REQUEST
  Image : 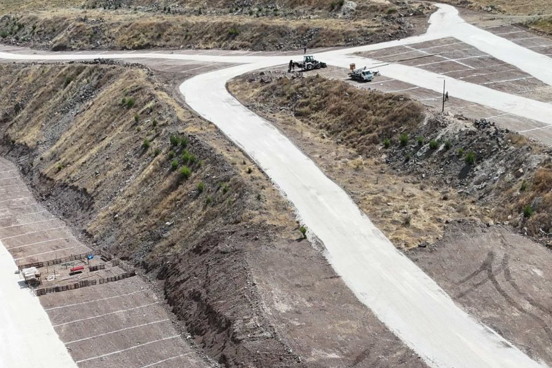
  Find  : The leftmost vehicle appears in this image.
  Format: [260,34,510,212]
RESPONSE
[294,53,335,72]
